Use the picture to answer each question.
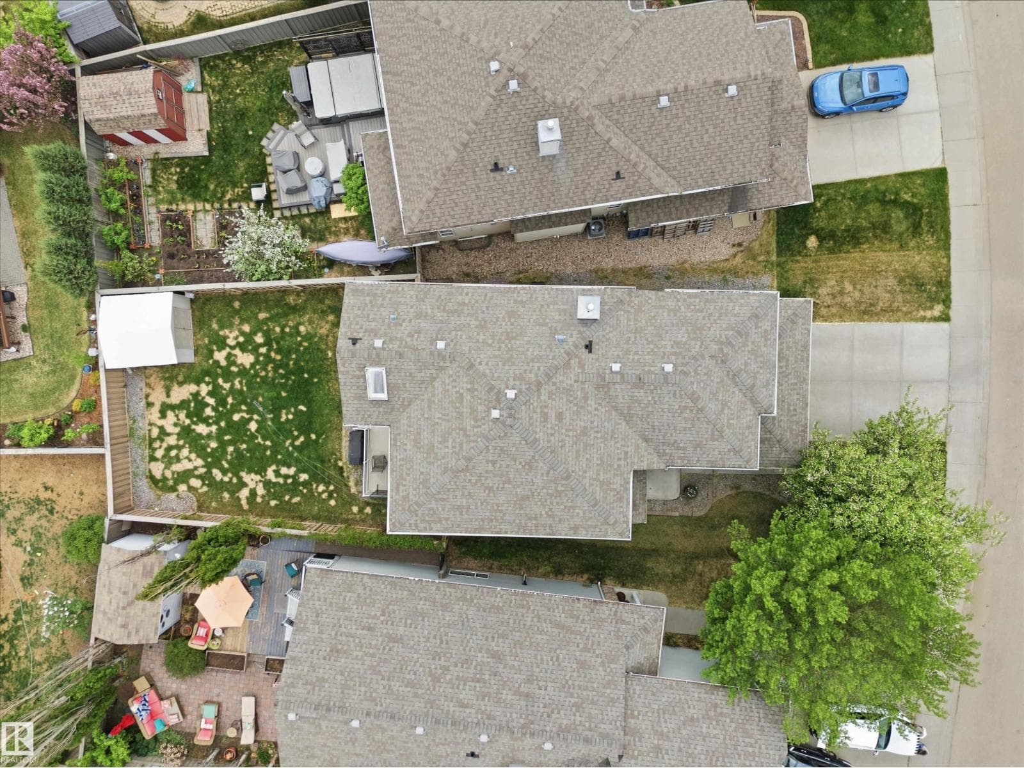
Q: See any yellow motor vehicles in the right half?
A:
No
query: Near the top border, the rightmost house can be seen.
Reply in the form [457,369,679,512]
[359,0,817,253]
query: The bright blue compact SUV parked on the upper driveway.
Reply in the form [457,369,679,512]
[807,59,913,117]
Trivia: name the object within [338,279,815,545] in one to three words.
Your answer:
house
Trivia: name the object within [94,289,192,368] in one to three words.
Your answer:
shed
